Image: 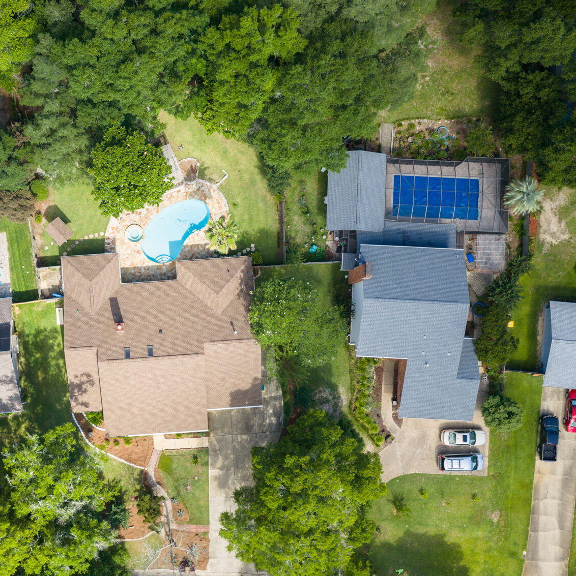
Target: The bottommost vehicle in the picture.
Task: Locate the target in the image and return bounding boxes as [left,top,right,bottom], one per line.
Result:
[436,453,483,474]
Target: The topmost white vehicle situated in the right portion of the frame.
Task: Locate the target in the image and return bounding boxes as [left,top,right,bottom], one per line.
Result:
[439,427,485,449]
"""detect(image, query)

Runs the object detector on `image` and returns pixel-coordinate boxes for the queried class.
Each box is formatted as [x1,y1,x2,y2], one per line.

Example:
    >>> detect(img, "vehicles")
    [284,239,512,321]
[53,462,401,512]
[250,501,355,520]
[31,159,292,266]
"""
[439,427,485,449]
[436,453,483,474]
[537,413,564,464]
[562,390,576,434]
